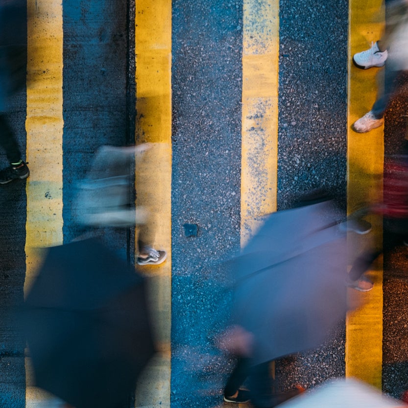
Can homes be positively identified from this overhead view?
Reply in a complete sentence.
No, I can't see a single home in this photo.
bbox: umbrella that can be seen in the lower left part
[21,237,167,407]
